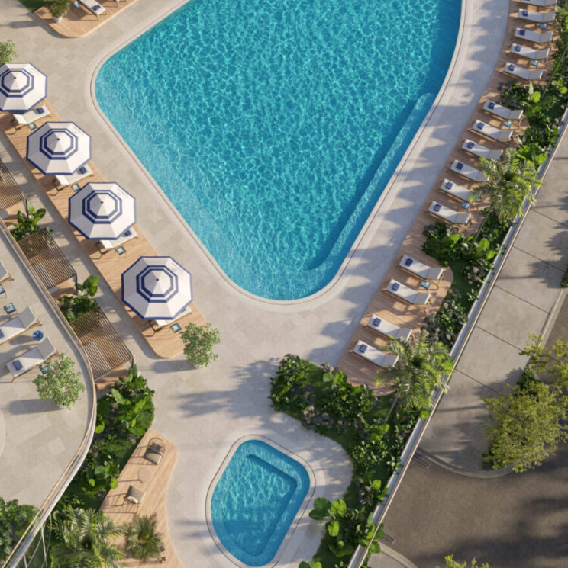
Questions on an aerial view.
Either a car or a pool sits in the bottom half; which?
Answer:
pool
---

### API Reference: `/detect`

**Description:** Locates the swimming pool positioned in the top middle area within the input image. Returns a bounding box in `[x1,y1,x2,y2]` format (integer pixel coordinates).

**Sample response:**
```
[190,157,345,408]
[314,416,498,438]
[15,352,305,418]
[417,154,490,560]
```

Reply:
[95,0,462,300]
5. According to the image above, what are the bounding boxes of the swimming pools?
[211,441,310,567]
[95,0,462,300]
